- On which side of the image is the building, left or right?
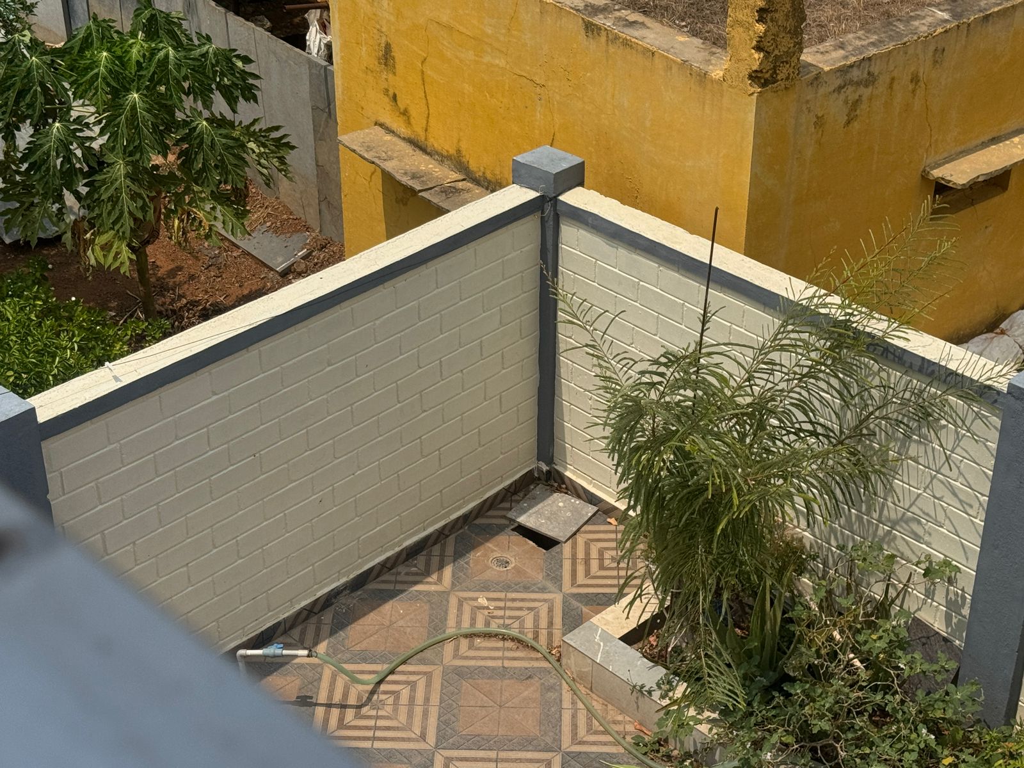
right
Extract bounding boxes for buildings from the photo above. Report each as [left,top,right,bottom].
[334,0,1024,339]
